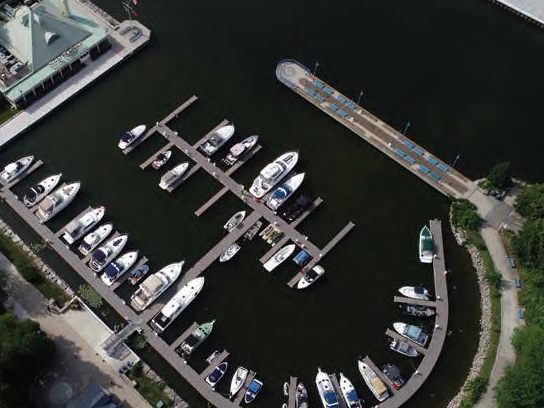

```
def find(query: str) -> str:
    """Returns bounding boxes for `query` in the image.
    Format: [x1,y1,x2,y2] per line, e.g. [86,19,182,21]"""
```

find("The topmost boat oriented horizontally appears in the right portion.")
[398,286,432,300]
